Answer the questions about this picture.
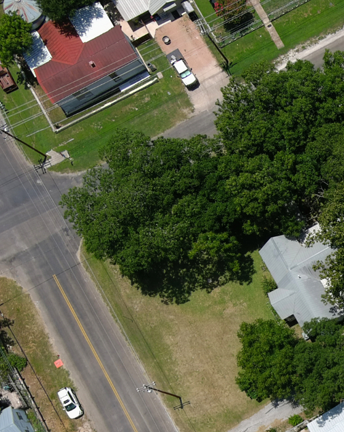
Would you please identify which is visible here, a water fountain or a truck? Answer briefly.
truck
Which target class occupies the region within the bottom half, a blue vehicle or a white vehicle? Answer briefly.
white vehicle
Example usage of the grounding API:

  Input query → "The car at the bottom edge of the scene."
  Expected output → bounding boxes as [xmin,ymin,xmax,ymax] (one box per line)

[58,386,83,419]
